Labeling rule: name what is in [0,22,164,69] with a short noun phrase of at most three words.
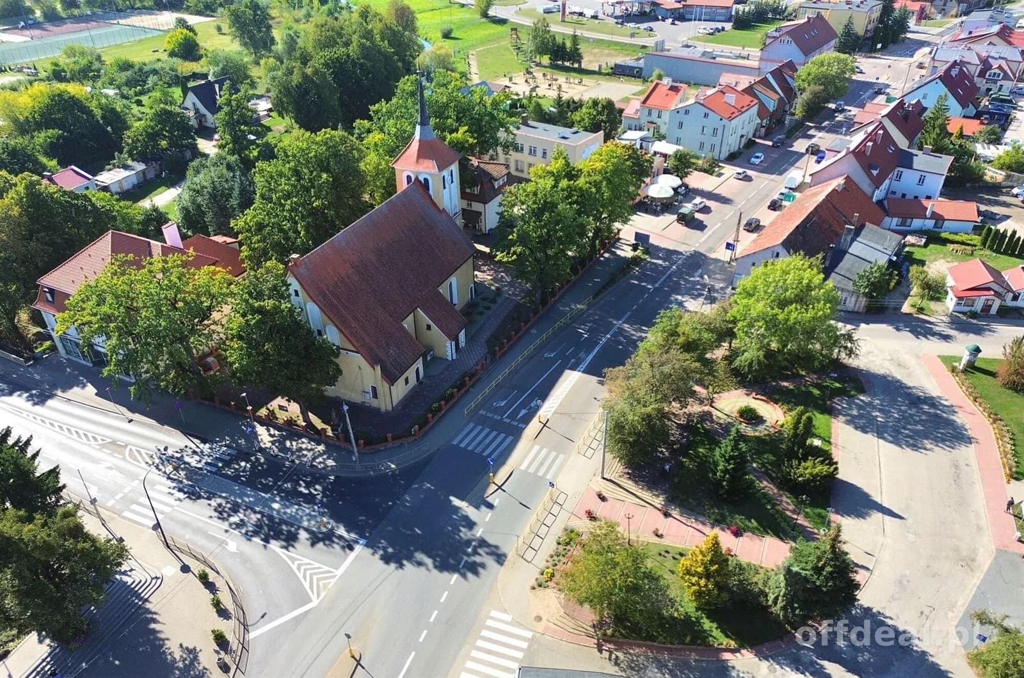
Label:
sports court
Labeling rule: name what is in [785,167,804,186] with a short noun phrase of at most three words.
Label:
vehicle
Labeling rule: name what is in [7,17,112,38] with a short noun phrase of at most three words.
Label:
sports court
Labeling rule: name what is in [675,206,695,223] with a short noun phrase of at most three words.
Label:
car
